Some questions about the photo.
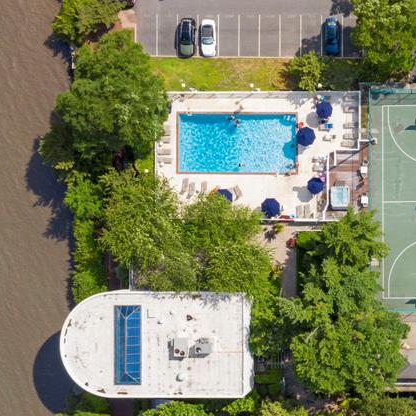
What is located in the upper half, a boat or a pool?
pool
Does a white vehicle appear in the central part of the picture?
No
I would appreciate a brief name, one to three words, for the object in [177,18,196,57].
car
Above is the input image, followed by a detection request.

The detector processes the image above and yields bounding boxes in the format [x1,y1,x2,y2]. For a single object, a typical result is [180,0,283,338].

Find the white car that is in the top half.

[198,19,217,57]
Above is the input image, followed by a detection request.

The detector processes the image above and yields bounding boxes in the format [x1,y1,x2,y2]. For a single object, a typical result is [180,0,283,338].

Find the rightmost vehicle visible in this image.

[323,19,340,54]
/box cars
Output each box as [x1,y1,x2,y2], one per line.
[107,0,139,8]
[323,19,340,54]
[177,18,196,57]
[198,19,217,57]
